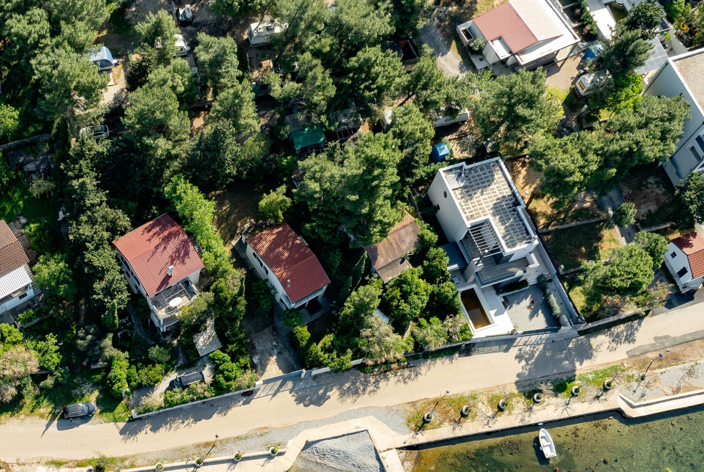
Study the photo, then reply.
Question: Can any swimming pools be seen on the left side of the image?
No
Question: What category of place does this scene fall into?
residential area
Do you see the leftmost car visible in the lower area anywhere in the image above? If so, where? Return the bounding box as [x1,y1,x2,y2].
[63,402,97,421]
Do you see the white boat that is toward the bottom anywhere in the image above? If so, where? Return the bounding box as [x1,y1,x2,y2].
[538,428,557,460]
